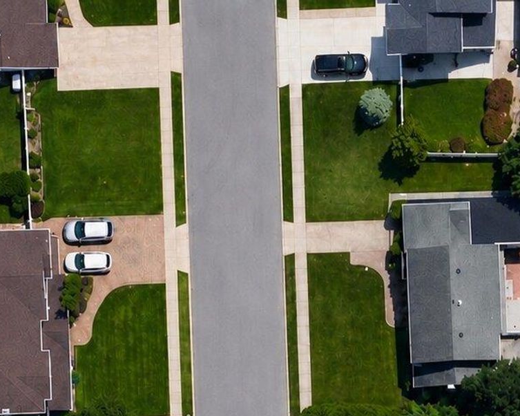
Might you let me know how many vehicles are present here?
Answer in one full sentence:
Altogether the scene contains 3 vehicles.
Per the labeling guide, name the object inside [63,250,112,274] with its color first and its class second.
white car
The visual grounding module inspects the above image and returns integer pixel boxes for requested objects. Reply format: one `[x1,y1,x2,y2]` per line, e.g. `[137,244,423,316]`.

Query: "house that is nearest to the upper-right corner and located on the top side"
[385,0,497,59]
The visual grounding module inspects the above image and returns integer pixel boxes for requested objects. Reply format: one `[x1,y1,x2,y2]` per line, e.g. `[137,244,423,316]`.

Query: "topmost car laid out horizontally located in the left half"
[61,218,114,244]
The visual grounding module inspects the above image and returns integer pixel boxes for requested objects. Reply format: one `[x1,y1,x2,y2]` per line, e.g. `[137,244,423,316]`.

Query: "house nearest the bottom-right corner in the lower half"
[402,196,520,393]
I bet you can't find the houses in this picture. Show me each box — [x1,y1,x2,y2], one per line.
[385,0,497,59]
[0,230,73,416]
[0,0,60,71]
[402,196,520,393]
